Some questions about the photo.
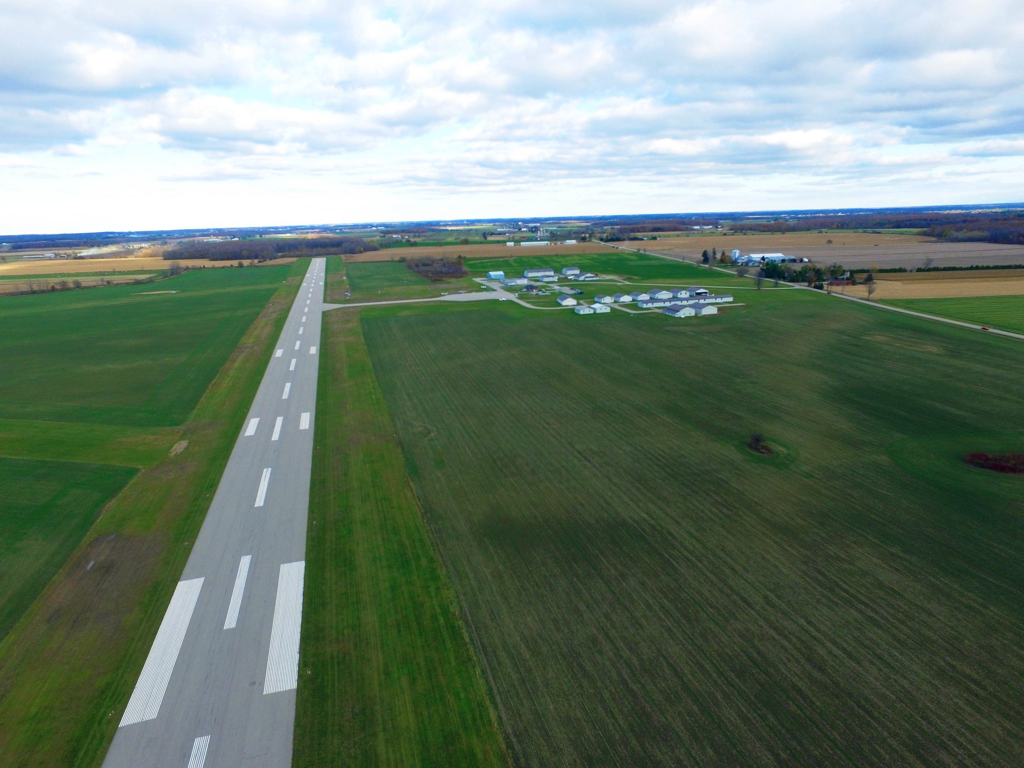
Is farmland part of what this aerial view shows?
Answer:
Yes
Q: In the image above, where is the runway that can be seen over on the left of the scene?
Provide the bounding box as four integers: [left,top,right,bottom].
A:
[102,258,325,768]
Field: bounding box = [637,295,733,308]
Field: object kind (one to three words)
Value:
hangar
